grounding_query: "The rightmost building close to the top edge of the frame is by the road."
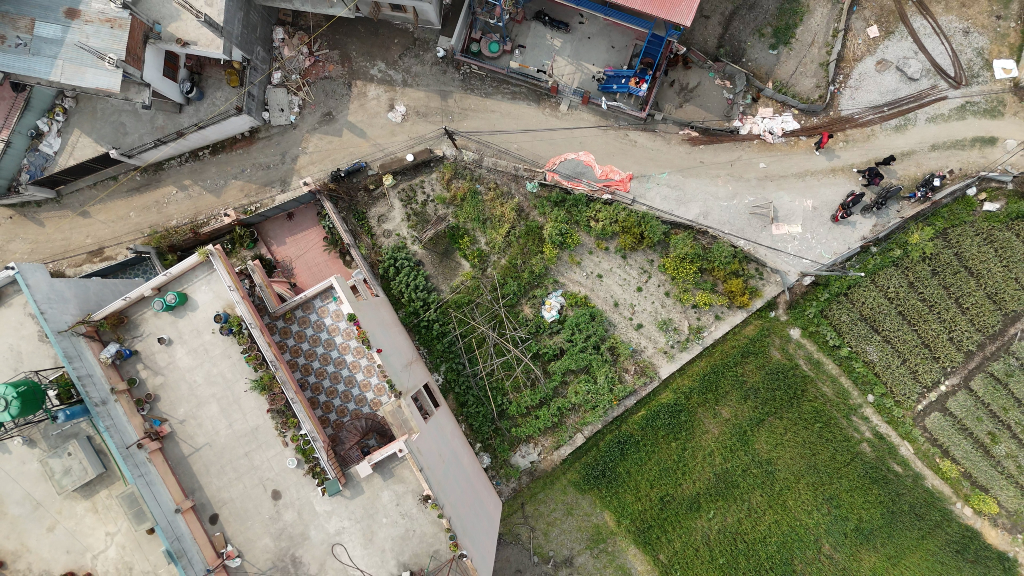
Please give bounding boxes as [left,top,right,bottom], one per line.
[542,0,700,102]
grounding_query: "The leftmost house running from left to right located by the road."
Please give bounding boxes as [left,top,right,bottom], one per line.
[0,0,277,114]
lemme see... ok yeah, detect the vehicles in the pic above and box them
[905,171,950,199]
[861,184,905,211]
[328,158,368,181]
[531,2,570,34]
[830,189,866,222]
